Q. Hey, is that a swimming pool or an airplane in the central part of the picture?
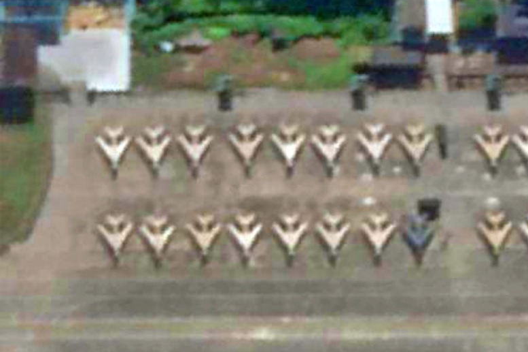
airplane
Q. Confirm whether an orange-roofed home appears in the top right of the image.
No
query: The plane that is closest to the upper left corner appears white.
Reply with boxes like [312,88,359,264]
[96,125,131,172]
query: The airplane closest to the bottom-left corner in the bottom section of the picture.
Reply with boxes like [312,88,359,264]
[97,215,132,262]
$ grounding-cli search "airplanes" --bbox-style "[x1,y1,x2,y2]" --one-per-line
[401,213,436,259]
[139,215,174,262]
[316,214,351,261]
[361,213,396,259]
[398,122,432,169]
[177,124,212,171]
[97,215,132,262]
[475,123,510,170]
[96,125,131,172]
[513,122,528,158]
[136,125,171,172]
[312,124,347,171]
[273,214,308,261]
[272,123,307,171]
[186,214,221,261]
[479,212,513,258]
[357,123,392,170]
[227,214,262,261]
[228,123,263,170]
